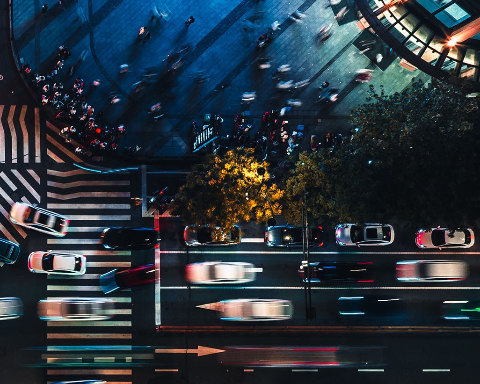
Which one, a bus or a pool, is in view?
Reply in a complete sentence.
The image shows a bus.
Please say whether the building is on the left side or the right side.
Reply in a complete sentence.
You can find the building on the right side of the picture.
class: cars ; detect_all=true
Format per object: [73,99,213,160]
[400,256,464,285]
[27,248,87,276]
[304,258,368,286]
[414,226,475,251]
[46,295,106,322]
[333,221,396,248]
[9,202,71,235]
[0,297,14,320]
[0,238,21,263]
[190,259,251,286]
[341,293,399,320]
[185,226,241,248]
[265,222,325,250]
[100,223,162,252]
[99,261,164,294]
[225,295,286,324]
